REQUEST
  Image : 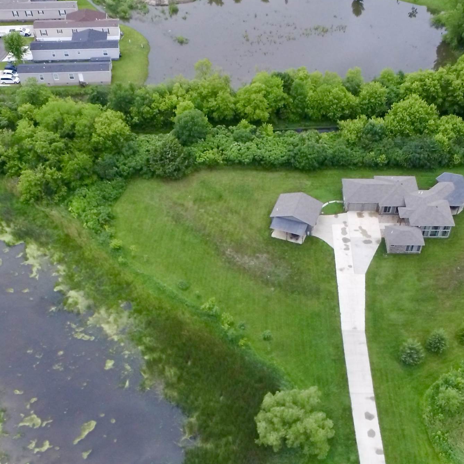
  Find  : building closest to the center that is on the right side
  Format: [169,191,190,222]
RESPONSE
[269,192,324,244]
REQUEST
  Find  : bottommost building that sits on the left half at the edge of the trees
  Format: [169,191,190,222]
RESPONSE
[18,57,111,84]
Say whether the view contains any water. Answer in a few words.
Yes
